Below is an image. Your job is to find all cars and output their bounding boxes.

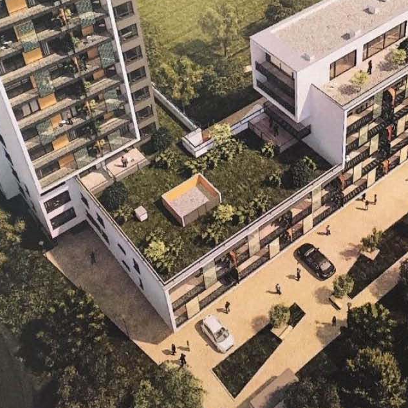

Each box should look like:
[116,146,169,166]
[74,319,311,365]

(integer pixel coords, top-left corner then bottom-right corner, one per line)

[294,239,336,279]
[197,311,236,354]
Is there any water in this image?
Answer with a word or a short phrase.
No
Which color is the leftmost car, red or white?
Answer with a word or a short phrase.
white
